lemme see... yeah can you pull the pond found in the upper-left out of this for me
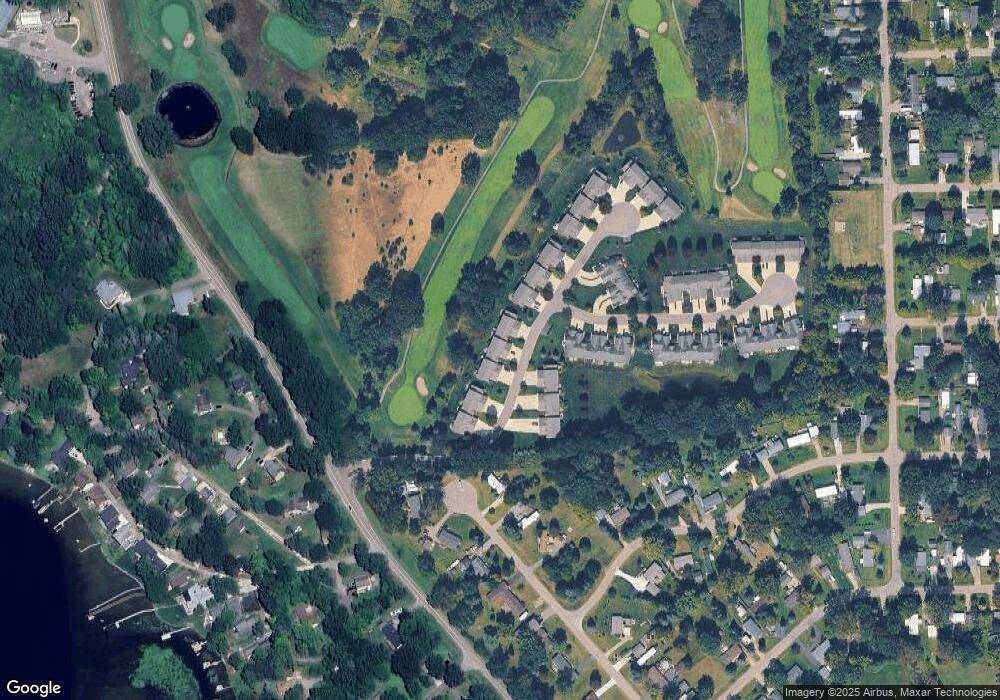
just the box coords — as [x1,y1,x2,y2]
[157,82,220,143]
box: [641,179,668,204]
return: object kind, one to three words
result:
house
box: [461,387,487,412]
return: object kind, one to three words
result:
house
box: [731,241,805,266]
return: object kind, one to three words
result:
building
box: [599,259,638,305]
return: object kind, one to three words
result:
building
